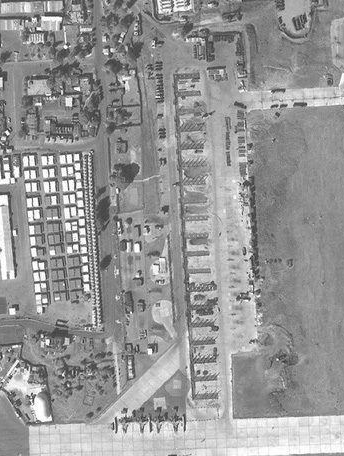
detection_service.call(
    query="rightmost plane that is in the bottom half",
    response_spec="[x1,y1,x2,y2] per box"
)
[169,411,182,430]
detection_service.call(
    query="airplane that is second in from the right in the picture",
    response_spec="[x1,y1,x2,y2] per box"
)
[151,411,164,430]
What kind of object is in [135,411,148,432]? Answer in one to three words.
airplane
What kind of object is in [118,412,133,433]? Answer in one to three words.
airplane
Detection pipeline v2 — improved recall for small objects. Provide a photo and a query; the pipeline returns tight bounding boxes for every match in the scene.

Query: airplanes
[169,411,182,430]
[151,411,164,430]
[135,411,148,432]
[118,412,133,433]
